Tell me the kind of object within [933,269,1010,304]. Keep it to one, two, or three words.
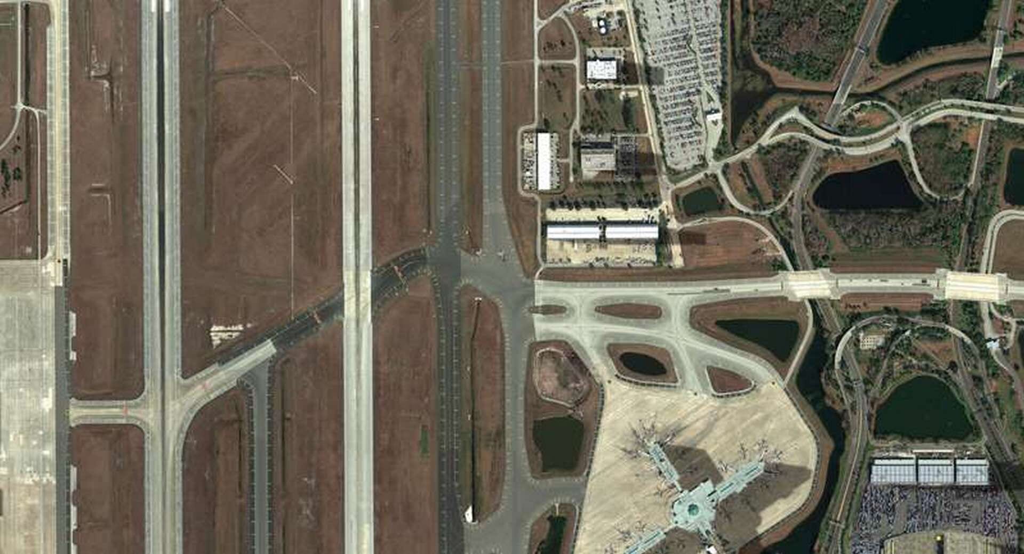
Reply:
bridge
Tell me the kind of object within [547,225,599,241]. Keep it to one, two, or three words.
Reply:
hangar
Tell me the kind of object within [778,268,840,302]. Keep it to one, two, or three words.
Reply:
bridge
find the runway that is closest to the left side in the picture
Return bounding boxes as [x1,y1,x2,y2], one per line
[141,0,183,554]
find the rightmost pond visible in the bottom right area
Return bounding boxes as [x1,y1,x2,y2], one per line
[876,374,976,440]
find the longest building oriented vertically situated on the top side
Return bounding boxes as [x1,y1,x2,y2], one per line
[538,132,550,189]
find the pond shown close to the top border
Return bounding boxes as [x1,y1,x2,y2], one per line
[877,0,991,66]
